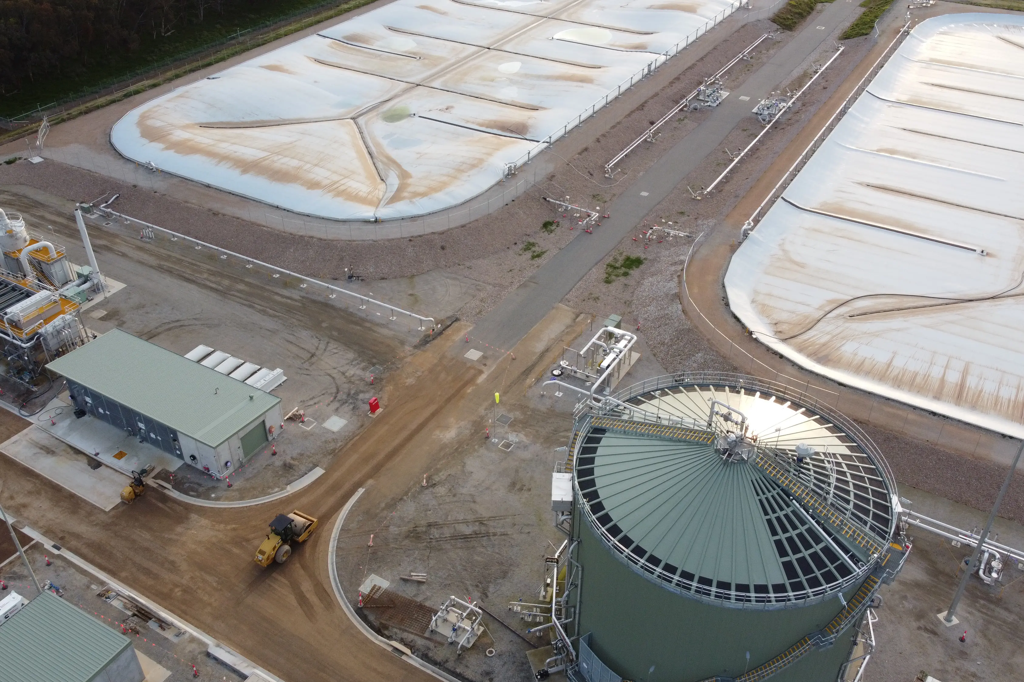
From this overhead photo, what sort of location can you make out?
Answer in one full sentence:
What you see here is an industrial area.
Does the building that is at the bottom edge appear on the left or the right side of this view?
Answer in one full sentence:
The building that is at the bottom edge sits on the left side.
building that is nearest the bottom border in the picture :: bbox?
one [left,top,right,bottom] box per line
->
[0,587,136,682]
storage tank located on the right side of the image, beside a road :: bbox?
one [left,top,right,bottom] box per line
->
[505,373,918,682]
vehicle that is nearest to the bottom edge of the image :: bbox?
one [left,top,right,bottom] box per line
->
[253,504,322,571]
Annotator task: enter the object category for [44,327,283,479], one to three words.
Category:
building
